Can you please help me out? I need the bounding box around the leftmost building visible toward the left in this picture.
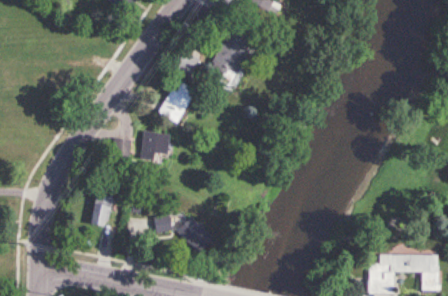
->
[92,198,112,226]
